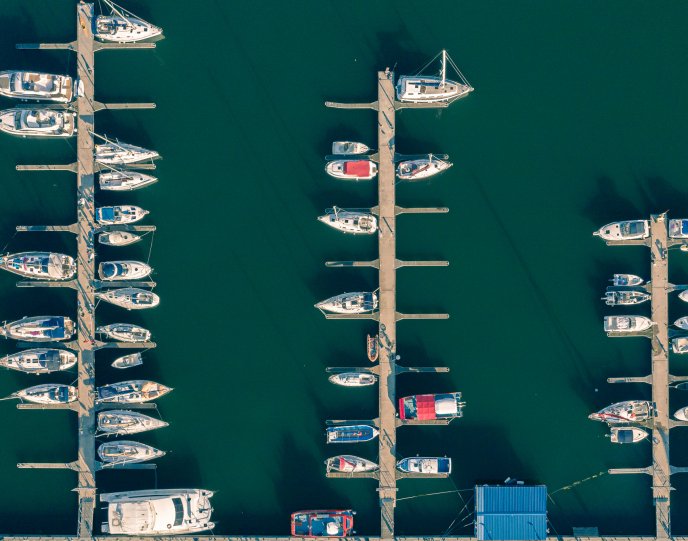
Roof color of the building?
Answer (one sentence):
The roof of the building is blue.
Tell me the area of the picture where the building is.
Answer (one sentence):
The building is in the bottom right part of the image.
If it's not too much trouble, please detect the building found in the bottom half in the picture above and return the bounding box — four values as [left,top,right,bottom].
[470,476,548,541]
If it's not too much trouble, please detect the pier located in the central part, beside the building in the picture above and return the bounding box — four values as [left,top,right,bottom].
[325,71,450,508]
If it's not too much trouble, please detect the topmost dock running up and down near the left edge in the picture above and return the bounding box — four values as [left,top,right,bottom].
[15,3,157,508]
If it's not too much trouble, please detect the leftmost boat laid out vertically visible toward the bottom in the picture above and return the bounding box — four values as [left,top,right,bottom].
[367,335,379,362]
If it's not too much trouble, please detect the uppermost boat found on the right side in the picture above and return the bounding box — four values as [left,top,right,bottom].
[394,50,474,105]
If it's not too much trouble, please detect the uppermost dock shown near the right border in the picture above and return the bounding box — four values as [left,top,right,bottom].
[605,214,688,508]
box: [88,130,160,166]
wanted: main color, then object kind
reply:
white boat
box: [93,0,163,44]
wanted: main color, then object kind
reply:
white boat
